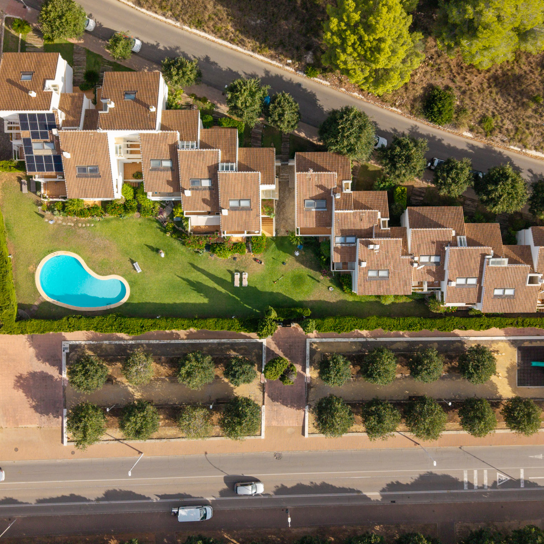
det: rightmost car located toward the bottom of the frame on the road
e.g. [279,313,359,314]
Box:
[233,480,264,496]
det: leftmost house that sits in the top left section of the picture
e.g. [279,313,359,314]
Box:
[0,52,92,200]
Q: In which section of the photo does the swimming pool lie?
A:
left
